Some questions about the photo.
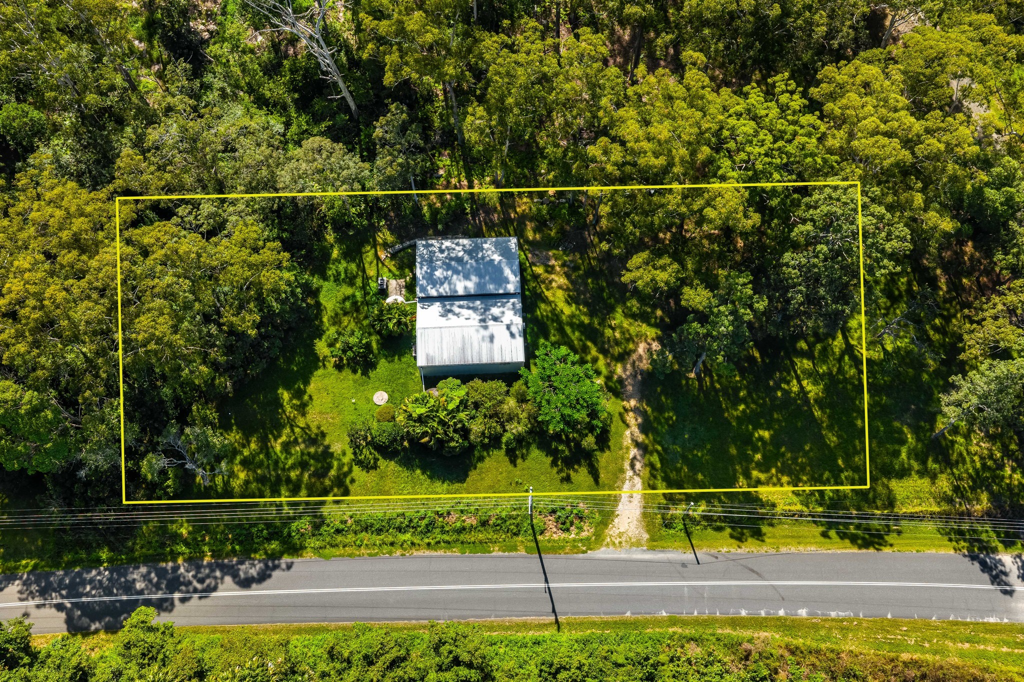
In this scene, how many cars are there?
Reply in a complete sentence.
The picture shows no cars.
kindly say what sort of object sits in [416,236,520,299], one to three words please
shed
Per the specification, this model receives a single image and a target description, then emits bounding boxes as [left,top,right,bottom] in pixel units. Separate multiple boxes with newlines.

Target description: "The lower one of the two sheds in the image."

[416,293,526,391]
